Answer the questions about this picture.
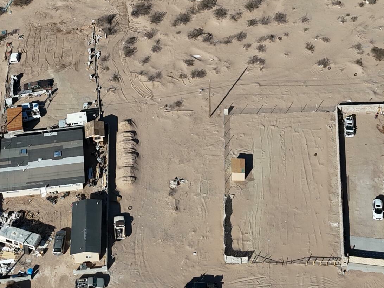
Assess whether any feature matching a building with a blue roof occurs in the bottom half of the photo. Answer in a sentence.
No, no building with a blue roof appears in the bottom half of the photo.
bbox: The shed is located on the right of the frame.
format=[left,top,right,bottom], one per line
[231,157,245,182]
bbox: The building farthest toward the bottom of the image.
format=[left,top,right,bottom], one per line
[70,196,102,263]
